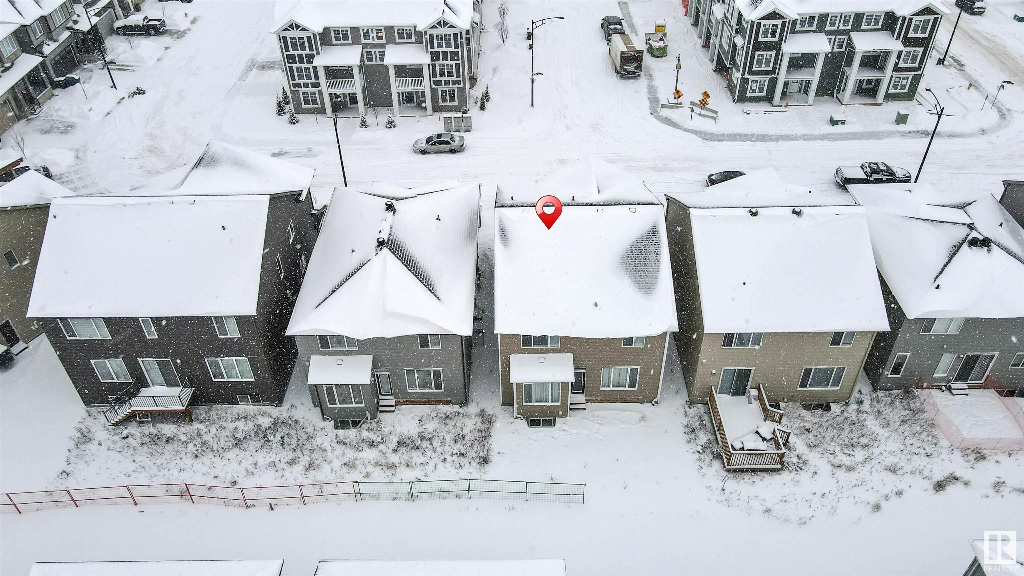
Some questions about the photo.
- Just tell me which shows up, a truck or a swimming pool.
truck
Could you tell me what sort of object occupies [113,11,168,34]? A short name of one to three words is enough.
truck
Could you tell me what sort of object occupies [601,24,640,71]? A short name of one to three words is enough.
truck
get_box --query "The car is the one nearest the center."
[413,129,467,152]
